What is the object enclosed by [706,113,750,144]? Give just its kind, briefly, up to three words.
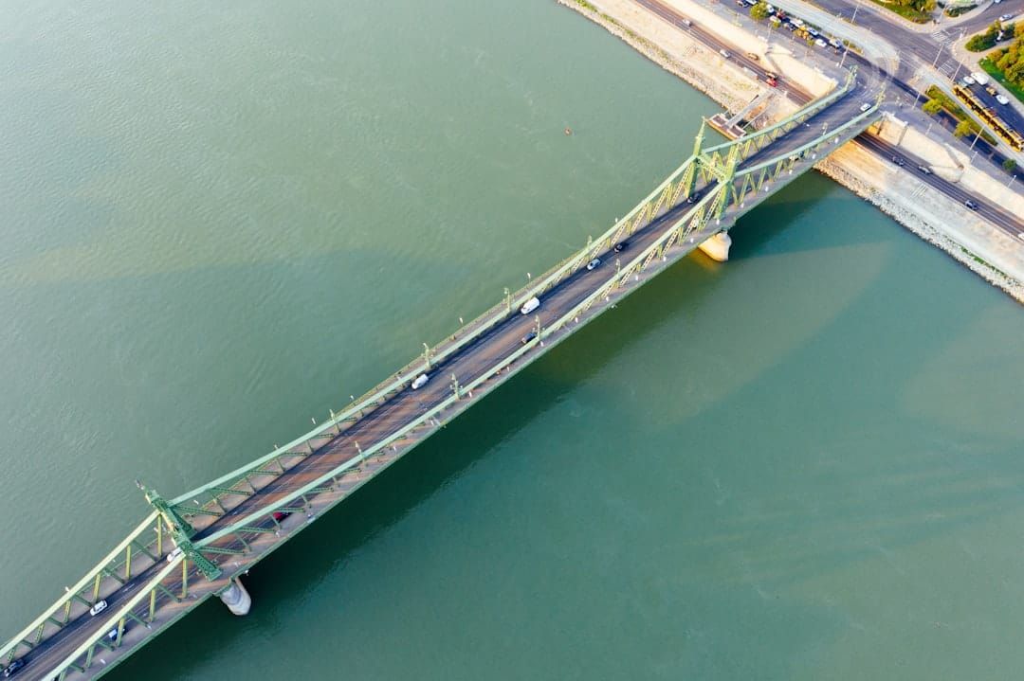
pier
